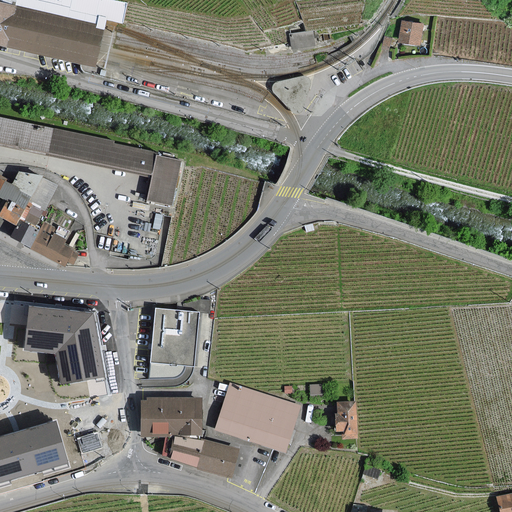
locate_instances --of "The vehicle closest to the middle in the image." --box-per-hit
[255,220,276,242]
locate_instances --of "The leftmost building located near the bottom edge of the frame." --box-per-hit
[0,420,68,490]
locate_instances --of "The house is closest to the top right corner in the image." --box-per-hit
[399,20,425,45]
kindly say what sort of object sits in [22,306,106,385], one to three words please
building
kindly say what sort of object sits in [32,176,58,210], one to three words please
shed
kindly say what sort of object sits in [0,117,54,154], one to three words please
shed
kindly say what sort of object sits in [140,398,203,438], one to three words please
house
